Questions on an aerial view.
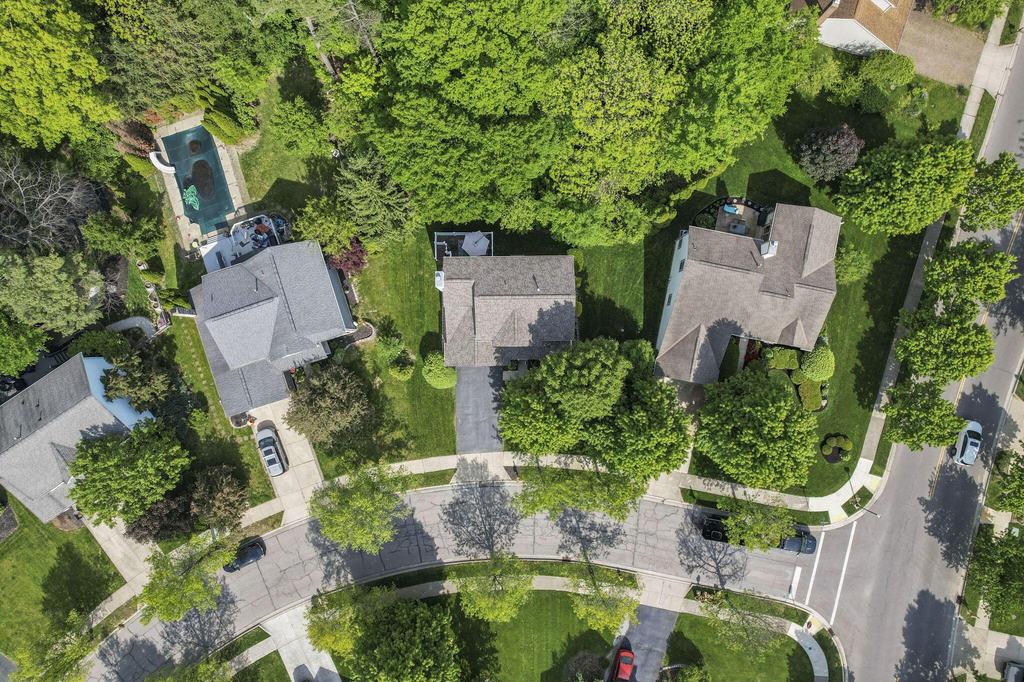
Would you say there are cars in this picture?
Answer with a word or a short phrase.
Yes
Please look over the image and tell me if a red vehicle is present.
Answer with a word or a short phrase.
Yes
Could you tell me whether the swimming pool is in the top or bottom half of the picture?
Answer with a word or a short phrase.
top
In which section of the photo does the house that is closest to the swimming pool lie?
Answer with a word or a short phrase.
left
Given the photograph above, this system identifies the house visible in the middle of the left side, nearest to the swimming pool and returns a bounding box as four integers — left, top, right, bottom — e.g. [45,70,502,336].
[169,240,355,418]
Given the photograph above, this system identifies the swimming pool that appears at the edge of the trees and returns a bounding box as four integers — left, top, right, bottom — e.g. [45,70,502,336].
[152,116,260,262]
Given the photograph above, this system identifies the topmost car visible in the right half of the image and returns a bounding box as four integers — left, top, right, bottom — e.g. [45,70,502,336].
[952,417,985,466]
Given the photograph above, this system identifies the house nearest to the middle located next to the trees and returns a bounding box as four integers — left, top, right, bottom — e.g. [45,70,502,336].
[435,255,575,366]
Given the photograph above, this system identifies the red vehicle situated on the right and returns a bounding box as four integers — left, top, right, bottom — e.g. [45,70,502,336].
[610,651,634,682]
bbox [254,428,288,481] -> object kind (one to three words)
car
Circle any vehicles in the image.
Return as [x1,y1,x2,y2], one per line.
[254,428,288,481]
[750,530,814,557]
[952,417,985,466]
[610,651,634,682]
[697,518,747,546]
[1002,659,1024,682]
[222,539,269,571]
